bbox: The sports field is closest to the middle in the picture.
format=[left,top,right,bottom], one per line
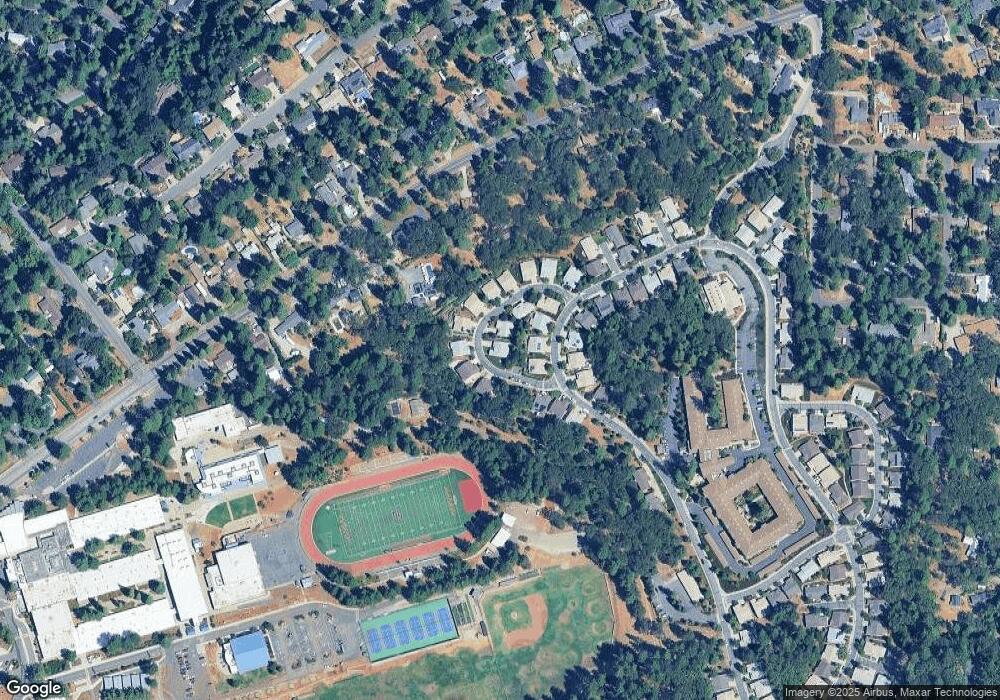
[310,469,478,560]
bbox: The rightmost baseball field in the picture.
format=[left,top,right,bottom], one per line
[484,569,612,700]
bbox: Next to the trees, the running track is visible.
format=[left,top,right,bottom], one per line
[299,456,490,573]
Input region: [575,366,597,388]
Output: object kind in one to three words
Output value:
house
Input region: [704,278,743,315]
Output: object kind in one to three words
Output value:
building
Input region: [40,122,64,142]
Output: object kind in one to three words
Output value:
house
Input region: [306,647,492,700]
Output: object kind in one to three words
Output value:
sports field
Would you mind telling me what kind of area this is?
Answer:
residential area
